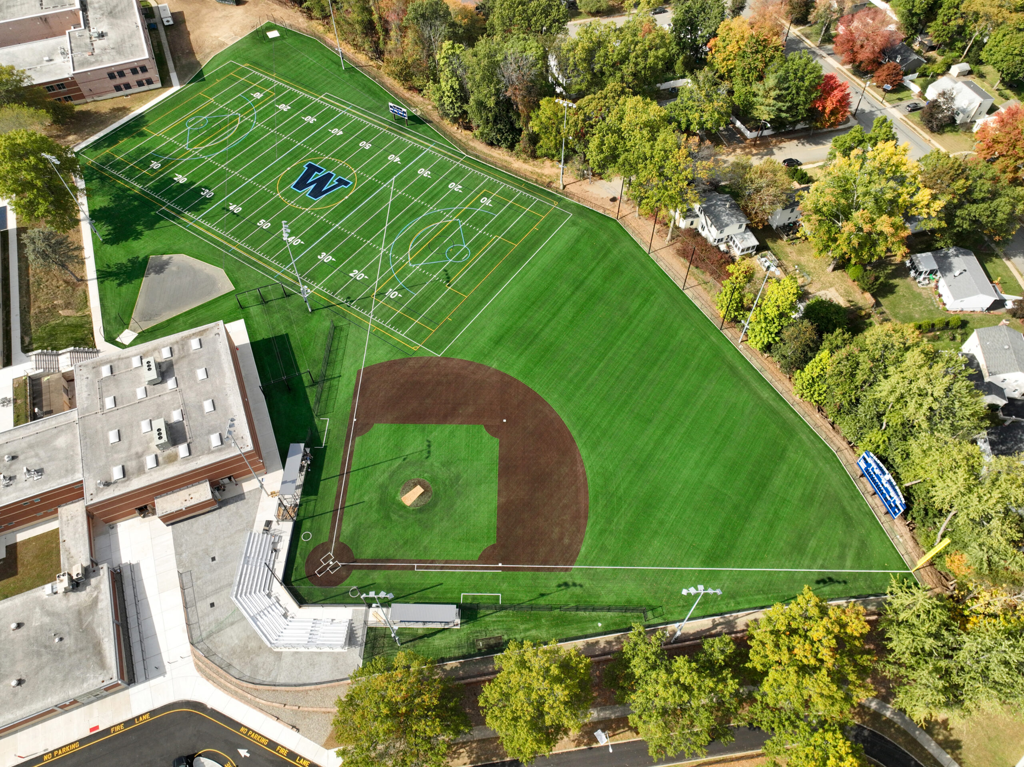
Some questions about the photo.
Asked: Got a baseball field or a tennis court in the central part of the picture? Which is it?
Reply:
baseball field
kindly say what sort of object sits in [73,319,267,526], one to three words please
building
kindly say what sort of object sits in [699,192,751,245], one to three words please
house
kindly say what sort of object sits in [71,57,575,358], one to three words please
sports field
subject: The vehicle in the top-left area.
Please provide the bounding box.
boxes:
[158,3,173,25]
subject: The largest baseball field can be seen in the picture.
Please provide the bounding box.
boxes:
[75,21,919,675]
